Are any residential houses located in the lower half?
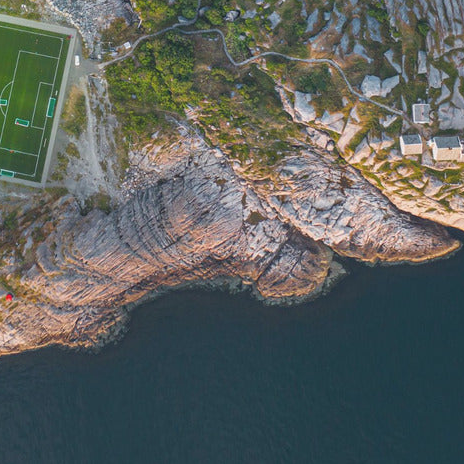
No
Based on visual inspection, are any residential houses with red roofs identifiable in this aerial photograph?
No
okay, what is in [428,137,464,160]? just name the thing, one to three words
house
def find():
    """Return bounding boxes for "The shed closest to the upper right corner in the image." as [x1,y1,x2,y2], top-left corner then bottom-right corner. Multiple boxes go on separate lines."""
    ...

[410,104,430,123]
